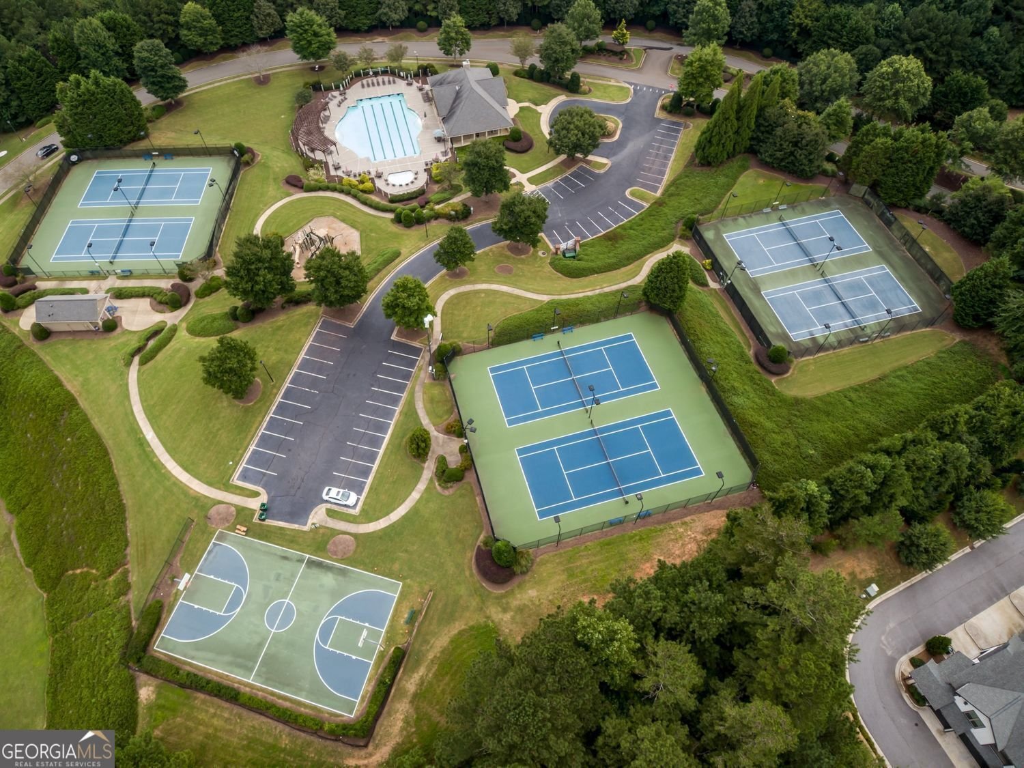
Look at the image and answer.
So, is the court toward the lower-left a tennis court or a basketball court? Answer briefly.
basketball court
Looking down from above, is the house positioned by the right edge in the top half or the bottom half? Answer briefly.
bottom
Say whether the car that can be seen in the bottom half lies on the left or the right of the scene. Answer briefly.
left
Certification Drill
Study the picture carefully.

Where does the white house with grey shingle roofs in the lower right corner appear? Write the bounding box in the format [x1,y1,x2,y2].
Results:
[899,643,1024,768]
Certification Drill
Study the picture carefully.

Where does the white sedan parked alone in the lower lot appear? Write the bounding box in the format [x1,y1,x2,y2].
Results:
[317,481,354,503]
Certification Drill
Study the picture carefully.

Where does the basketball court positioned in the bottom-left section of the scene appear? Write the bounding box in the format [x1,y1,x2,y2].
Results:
[147,522,398,712]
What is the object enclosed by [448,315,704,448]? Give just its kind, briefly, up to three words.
tennis court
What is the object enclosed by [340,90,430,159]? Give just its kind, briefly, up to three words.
swimming pool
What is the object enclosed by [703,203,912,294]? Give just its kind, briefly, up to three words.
tennis court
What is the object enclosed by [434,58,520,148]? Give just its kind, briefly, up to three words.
building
